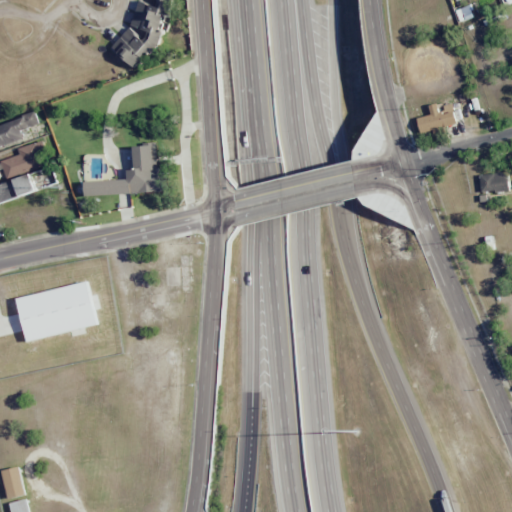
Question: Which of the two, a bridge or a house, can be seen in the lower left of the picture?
house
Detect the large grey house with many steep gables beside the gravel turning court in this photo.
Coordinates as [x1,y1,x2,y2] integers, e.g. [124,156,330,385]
[114,0,170,67]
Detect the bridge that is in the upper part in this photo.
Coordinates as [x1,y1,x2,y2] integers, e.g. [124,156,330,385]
[236,162,358,226]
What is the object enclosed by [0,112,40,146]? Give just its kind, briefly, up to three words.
house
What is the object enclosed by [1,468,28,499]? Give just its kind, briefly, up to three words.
house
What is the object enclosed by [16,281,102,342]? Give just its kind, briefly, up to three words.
building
